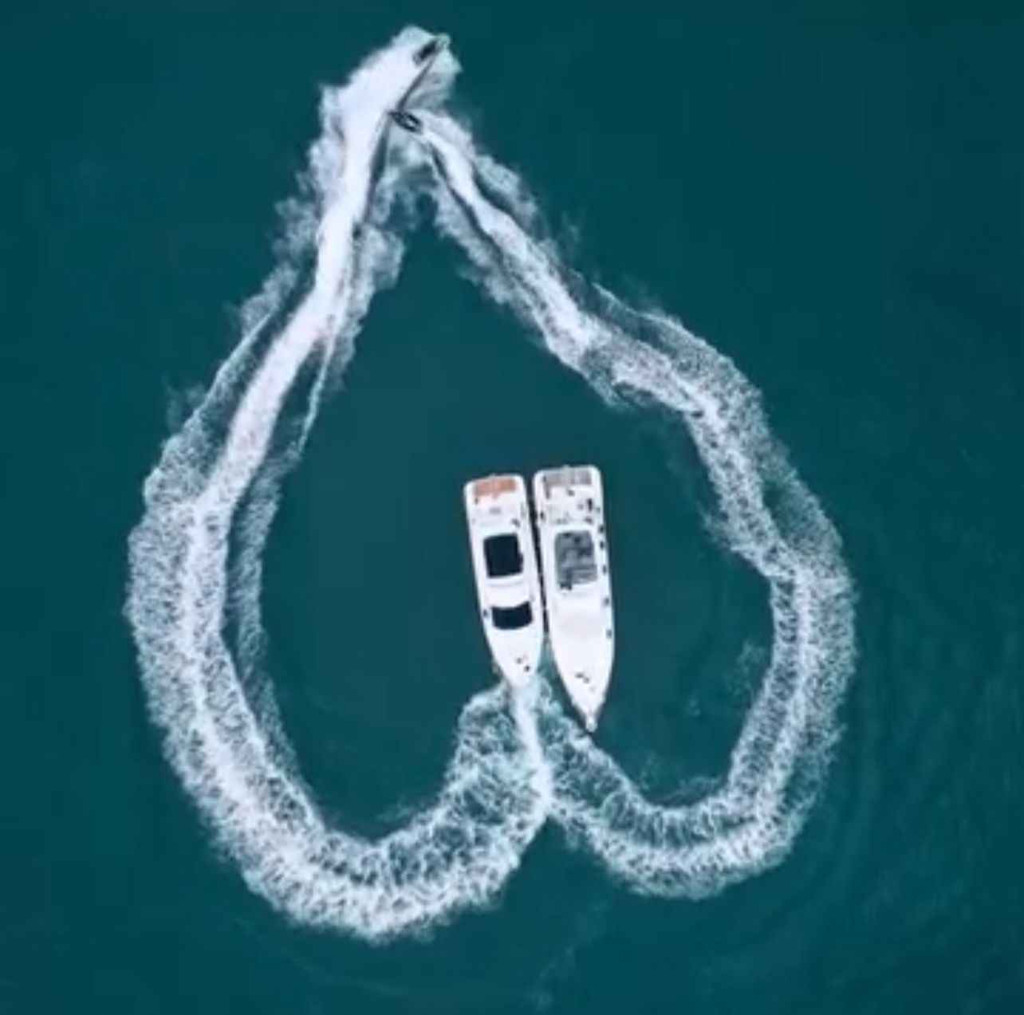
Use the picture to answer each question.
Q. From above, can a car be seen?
No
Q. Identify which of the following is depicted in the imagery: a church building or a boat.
boat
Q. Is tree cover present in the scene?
No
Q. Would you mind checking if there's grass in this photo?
No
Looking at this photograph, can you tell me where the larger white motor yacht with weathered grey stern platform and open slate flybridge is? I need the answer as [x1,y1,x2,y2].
[534,465,615,730]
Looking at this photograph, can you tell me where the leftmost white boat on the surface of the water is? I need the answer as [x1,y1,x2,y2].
[466,474,543,691]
